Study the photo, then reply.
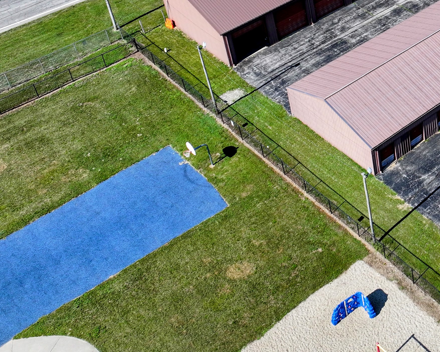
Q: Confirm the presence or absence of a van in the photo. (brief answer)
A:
No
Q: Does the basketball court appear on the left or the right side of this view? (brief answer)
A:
left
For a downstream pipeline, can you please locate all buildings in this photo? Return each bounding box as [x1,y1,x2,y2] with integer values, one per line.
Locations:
[285,1,440,175]
[163,0,356,68]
